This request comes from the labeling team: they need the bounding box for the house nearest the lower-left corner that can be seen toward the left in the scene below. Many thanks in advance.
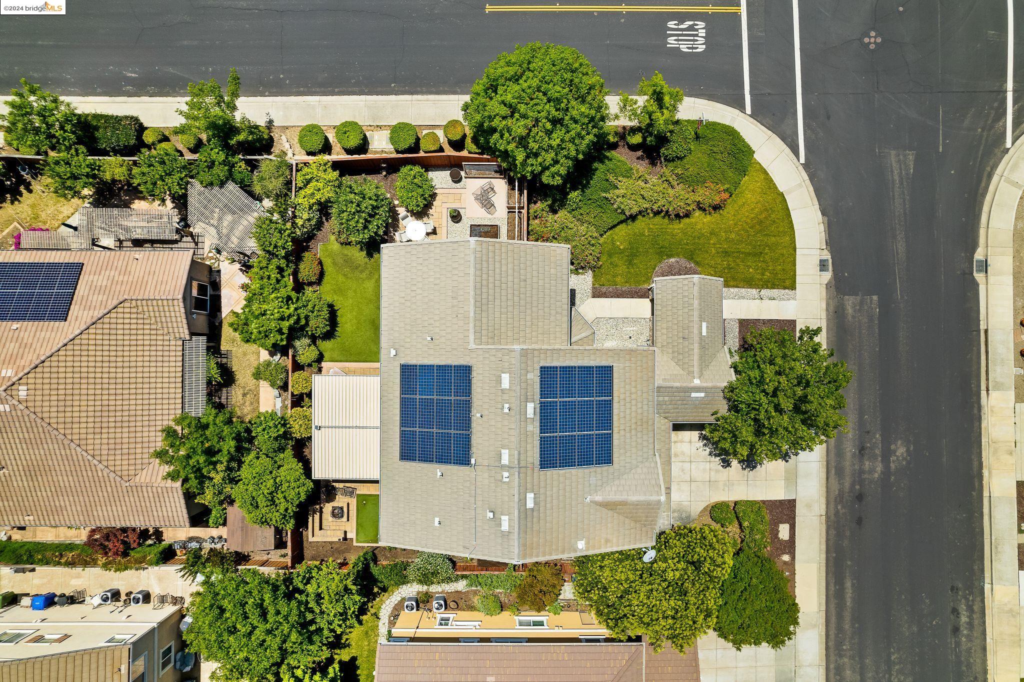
[0,606,183,682]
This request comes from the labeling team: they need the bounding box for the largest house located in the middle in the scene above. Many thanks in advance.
[378,238,732,564]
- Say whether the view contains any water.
No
